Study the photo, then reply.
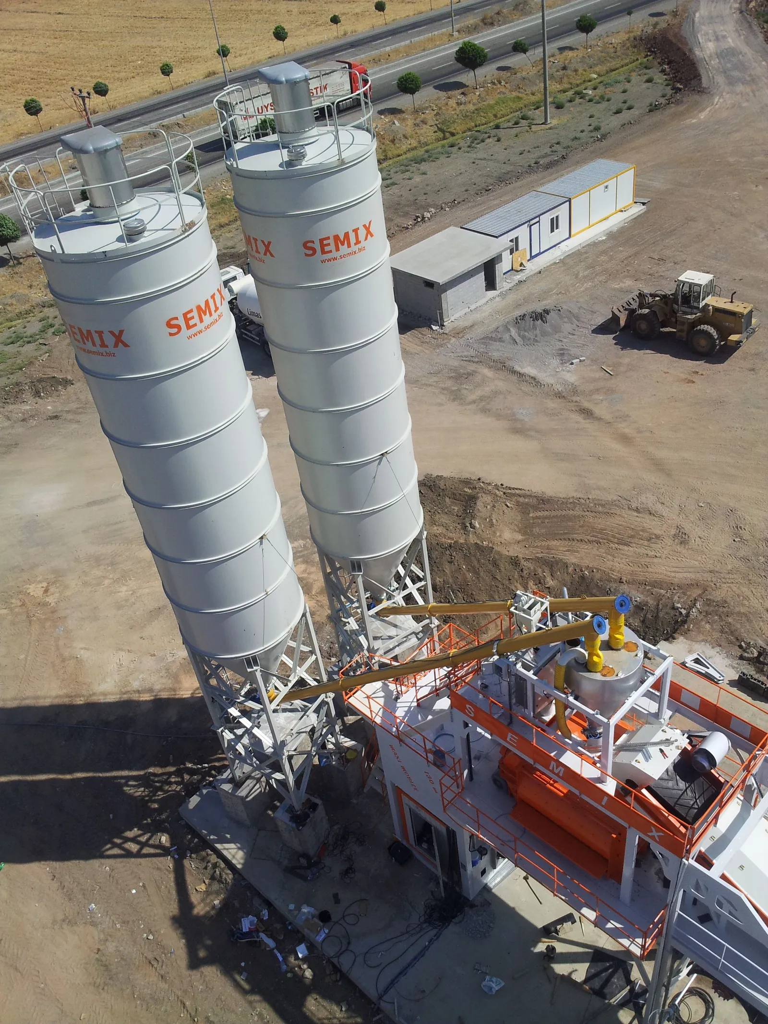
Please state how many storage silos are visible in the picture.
2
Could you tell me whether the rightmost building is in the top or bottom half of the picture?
top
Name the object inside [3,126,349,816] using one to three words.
silo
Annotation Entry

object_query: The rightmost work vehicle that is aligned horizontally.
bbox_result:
[591,270,760,357]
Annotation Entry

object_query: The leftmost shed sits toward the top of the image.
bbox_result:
[391,231,514,319]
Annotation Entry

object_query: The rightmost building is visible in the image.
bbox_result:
[538,158,635,236]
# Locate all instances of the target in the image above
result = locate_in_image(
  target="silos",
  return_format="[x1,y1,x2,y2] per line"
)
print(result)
[208,61,455,684]
[3,126,349,816]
